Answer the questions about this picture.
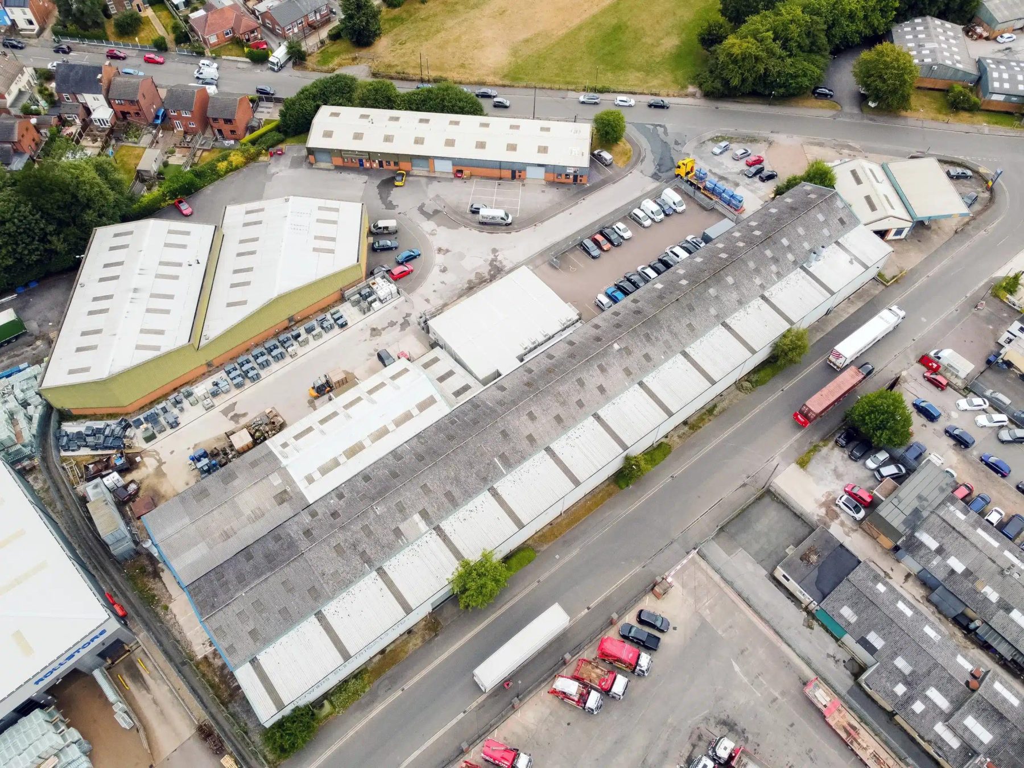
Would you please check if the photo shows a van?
Yes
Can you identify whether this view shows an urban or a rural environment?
urban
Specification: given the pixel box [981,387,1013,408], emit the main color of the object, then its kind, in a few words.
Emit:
gray car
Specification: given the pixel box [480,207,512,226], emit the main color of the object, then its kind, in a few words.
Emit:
white vehicle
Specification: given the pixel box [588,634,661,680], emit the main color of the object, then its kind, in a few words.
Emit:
red truck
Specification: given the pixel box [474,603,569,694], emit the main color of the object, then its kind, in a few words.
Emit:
white trailer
